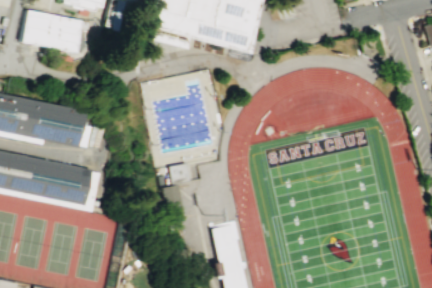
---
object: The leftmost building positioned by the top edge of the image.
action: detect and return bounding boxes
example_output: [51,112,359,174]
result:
[20,10,84,53]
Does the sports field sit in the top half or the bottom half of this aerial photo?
bottom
